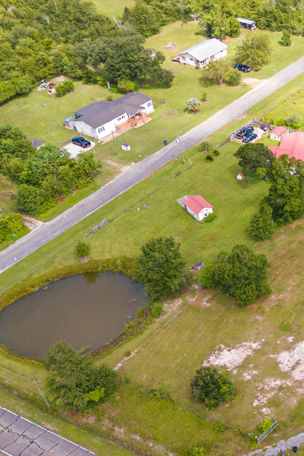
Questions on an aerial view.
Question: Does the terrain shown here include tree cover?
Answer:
Yes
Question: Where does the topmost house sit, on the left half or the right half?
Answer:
right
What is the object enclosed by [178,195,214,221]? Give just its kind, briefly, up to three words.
shed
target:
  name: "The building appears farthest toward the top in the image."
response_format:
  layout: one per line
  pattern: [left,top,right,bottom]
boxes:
[177,40,228,67]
